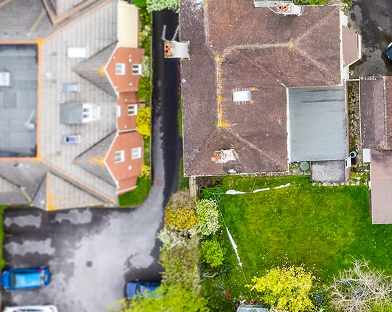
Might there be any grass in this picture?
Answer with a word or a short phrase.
Yes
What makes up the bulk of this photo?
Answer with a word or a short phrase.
buildings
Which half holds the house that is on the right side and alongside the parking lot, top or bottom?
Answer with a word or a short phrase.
top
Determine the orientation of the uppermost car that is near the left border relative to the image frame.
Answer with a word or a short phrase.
horizontally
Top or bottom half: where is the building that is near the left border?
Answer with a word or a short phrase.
top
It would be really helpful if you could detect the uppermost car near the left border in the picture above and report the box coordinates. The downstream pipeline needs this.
[2,267,52,291]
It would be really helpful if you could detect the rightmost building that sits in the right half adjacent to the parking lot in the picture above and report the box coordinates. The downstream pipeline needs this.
[166,0,364,182]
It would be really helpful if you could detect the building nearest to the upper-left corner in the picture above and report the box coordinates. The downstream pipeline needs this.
[0,0,143,210]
